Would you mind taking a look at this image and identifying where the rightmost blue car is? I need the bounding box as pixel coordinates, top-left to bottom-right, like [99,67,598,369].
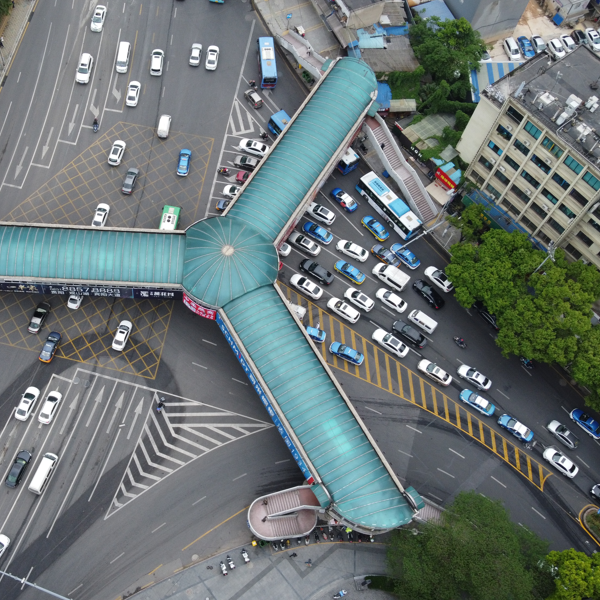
[570,410,600,438]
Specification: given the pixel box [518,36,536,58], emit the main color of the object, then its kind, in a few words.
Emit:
blue car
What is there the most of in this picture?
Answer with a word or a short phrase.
paved ground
